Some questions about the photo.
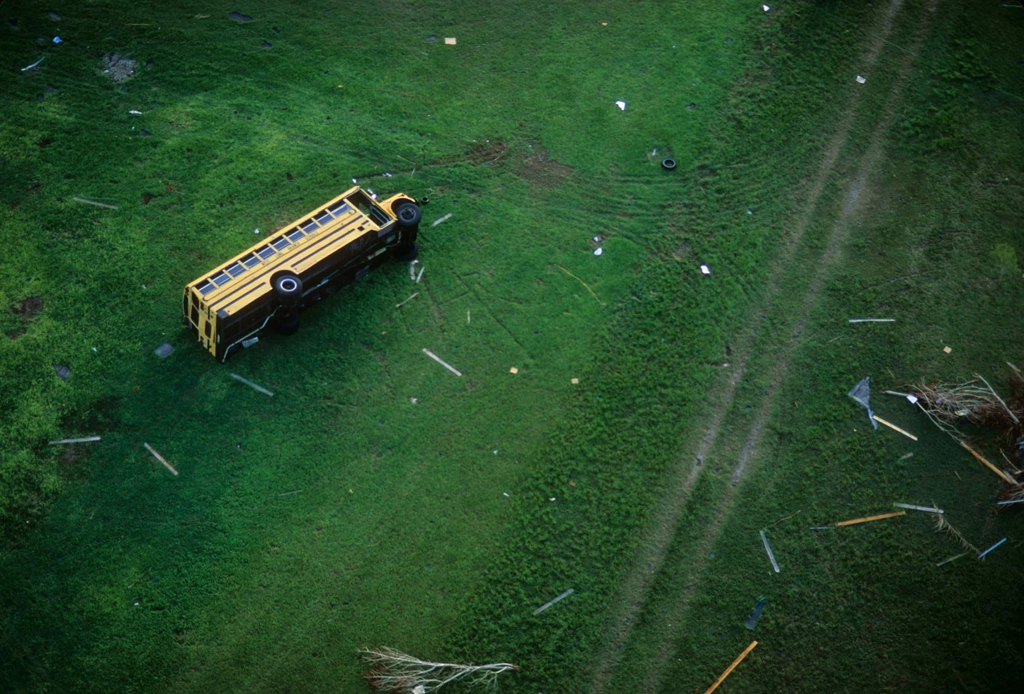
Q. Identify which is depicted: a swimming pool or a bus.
bus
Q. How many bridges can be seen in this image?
none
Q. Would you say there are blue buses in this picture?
No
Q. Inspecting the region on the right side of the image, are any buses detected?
No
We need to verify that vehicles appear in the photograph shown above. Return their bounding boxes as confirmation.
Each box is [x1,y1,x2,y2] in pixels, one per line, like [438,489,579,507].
[182,185,424,363]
